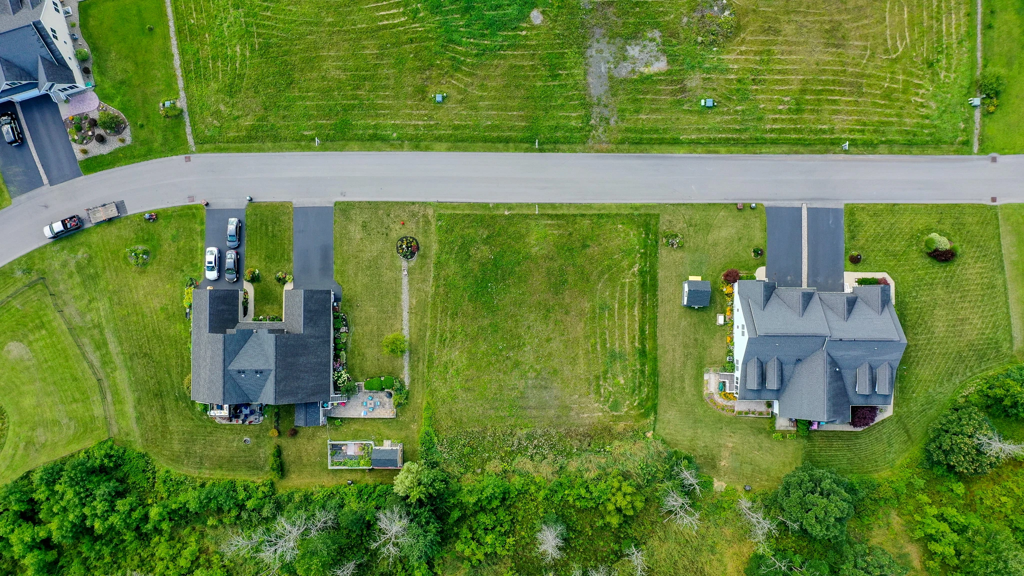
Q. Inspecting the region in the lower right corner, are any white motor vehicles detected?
No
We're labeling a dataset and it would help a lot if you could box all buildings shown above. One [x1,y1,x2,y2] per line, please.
[680,281,711,310]
[369,443,403,469]
[734,280,907,422]
[0,0,86,121]
[191,289,333,405]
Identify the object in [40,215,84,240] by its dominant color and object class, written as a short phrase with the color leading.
white truck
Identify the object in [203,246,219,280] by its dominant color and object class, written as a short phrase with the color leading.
white car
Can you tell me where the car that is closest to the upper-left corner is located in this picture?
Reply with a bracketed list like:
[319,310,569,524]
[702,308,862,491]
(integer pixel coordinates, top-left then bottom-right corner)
[0,110,22,145]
